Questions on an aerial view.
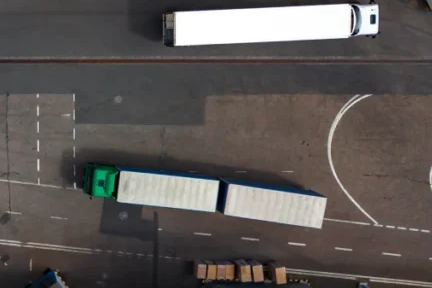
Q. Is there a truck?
Yes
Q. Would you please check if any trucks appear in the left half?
Yes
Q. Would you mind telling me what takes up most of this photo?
paved ground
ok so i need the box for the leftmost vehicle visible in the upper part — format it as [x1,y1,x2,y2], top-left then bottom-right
[159,0,378,46]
